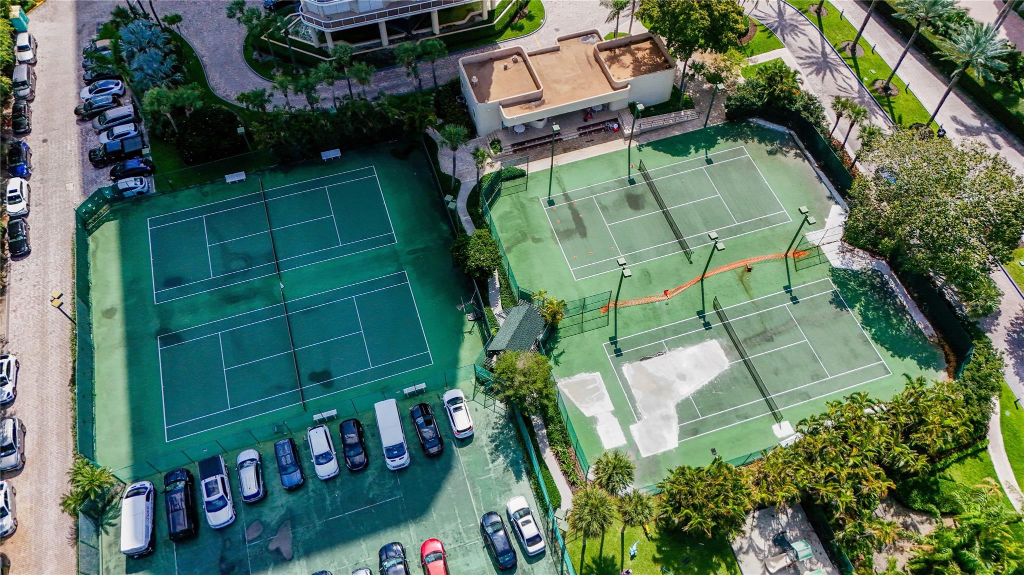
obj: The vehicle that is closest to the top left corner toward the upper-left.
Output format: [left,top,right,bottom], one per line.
[13,30,39,64]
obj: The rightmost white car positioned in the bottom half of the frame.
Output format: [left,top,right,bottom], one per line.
[507,497,546,559]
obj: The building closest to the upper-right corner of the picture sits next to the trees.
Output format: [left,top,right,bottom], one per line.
[460,29,676,137]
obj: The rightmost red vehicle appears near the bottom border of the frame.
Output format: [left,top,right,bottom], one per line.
[421,536,453,575]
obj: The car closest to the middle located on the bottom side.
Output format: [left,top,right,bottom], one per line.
[443,389,476,443]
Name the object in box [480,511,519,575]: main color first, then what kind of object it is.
blue car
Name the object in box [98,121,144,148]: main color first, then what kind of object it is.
blue car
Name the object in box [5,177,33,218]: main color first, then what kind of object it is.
white car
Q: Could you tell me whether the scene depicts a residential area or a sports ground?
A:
sports ground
